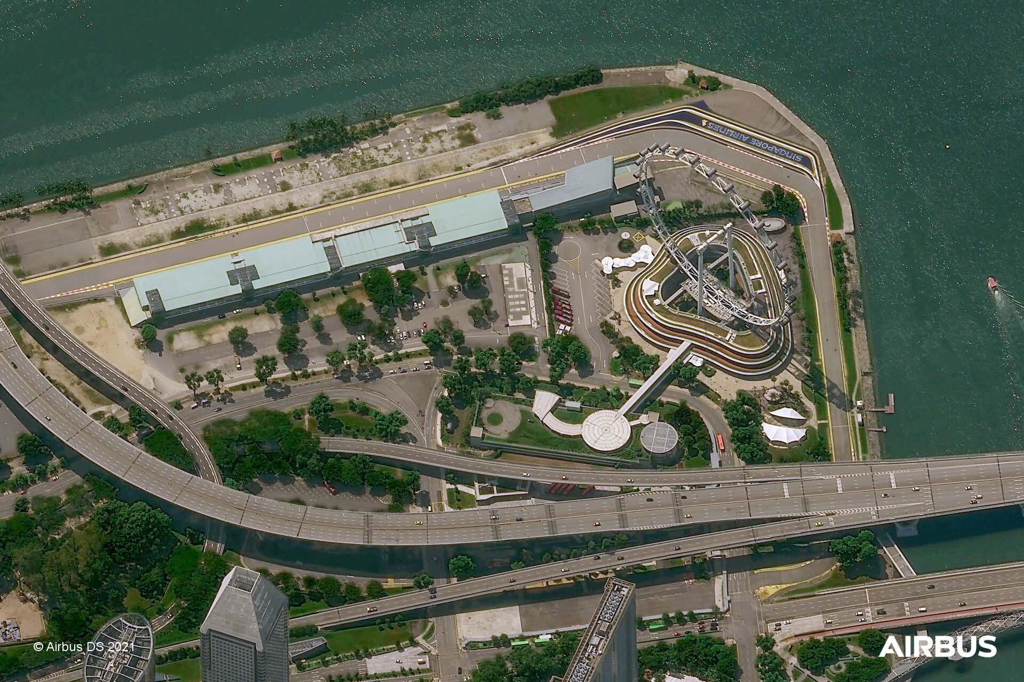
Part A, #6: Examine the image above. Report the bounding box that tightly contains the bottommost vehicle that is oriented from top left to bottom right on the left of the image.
[323,482,338,498]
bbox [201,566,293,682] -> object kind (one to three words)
building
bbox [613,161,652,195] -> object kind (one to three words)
house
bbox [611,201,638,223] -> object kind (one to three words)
shed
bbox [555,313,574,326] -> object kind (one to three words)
vehicle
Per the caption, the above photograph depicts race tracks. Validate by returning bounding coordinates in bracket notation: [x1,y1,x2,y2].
[0,100,855,462]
